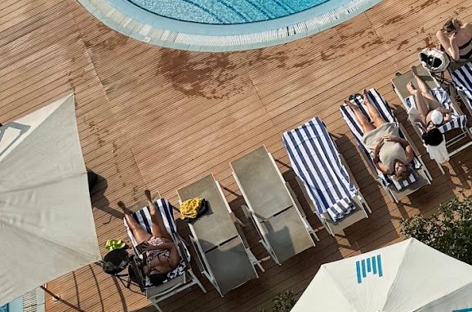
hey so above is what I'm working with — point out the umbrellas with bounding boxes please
[0,95,99,301]
[292,238,472,312]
